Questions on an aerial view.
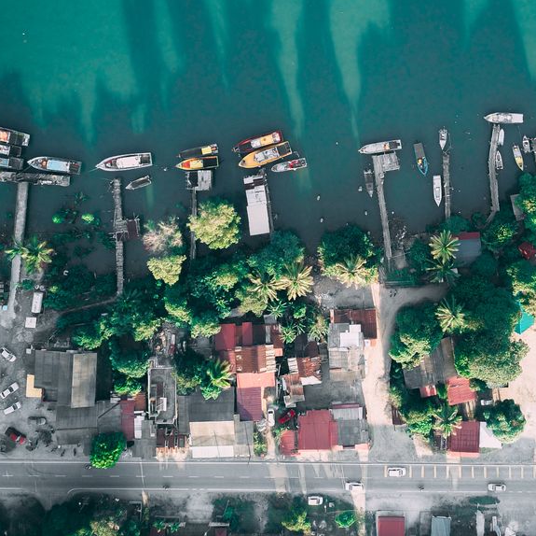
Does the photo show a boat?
Yes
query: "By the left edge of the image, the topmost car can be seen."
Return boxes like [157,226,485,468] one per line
[0,346,17,360]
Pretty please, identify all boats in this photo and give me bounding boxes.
[124,176,153,189]
[0,127,30,146]
[270,156,308,171]
[232,141,294,166]
[498,127,505,145]
[439,130,447,157]
[168,157,219,170]
[0,157,25,171]
[414,143,428,176]
[171,145,219,162]
[92,153,154,172]
[522,136,531,154]
[24,158,83,177]
[231,130,284,153]
[495,147,503,169]
[484,113,523,124]
[355,139,402,155]
[0,143,23,157]
[434,176,442,210]
[365,169,374,197]
[512,145,523,170]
